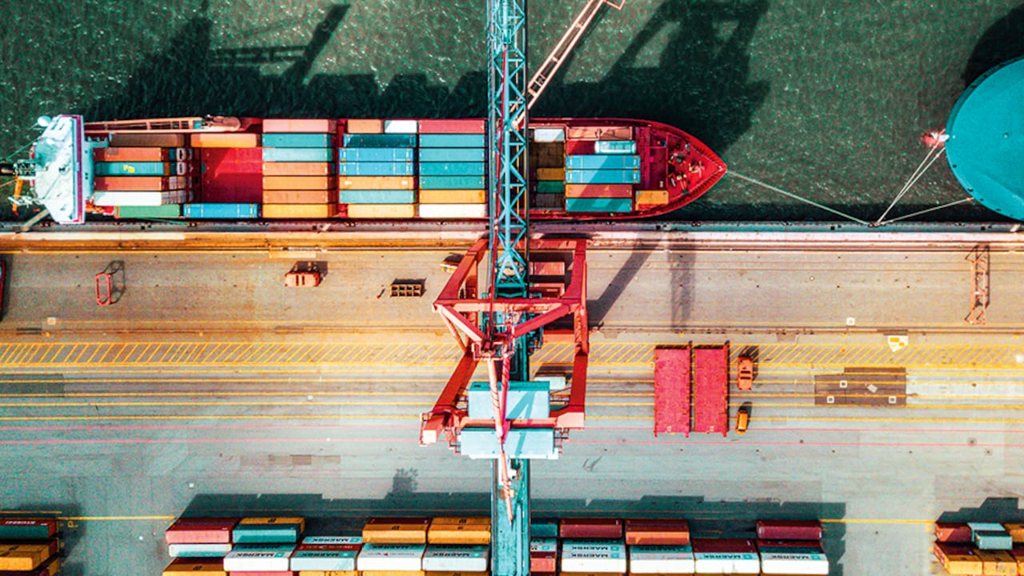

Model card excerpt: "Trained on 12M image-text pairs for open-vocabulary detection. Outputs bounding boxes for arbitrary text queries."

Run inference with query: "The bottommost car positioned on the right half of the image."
[735,405,749,432]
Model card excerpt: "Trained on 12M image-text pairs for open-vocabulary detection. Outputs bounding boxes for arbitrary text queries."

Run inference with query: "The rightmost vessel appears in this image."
[927,58,1024,218]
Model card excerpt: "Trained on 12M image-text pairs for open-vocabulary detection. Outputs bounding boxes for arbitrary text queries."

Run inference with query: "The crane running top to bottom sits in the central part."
[418,0,600,576]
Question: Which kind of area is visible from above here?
port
